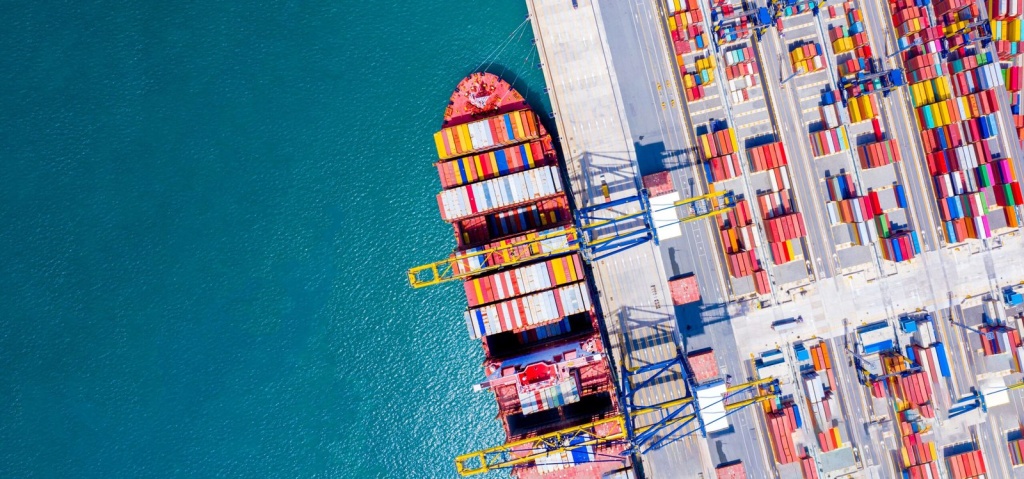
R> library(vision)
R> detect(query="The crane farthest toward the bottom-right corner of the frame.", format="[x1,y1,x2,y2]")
[939,374,1024,418]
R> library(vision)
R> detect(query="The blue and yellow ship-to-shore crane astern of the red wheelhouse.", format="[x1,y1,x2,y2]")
[451,340,786,479]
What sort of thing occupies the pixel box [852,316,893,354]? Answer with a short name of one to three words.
building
